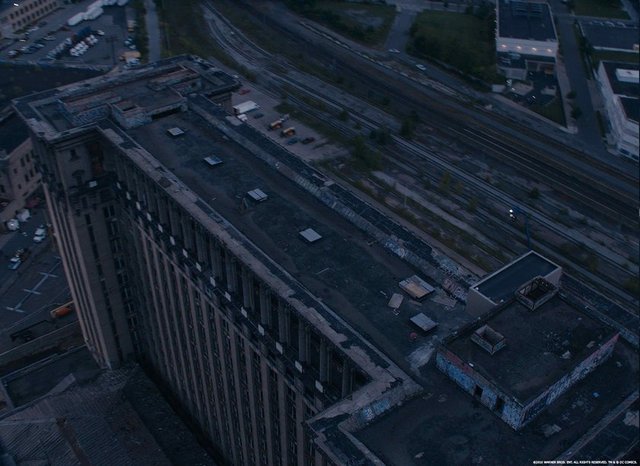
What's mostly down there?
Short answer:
buildings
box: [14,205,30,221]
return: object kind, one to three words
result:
vehicle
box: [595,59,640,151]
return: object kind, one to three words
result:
building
